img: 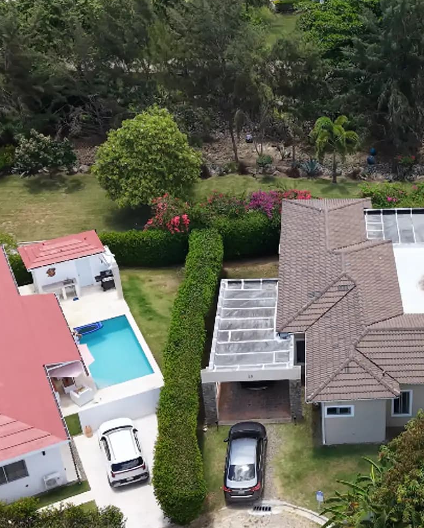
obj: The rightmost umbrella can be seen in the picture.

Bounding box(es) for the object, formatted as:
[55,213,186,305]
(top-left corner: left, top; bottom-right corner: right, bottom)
[77,348,101,381]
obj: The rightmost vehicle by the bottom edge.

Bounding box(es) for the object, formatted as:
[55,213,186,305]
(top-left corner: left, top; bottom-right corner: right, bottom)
[223,427,269,510]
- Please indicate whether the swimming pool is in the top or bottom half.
bottom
